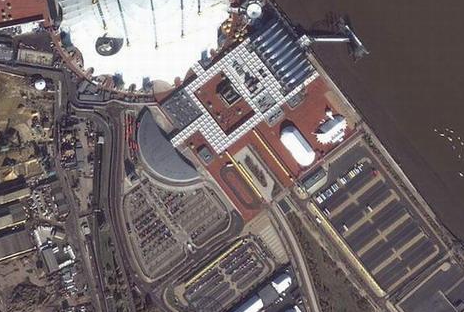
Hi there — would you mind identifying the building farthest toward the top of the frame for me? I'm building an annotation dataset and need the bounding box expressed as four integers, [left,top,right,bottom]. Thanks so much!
[243,2,263,23]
